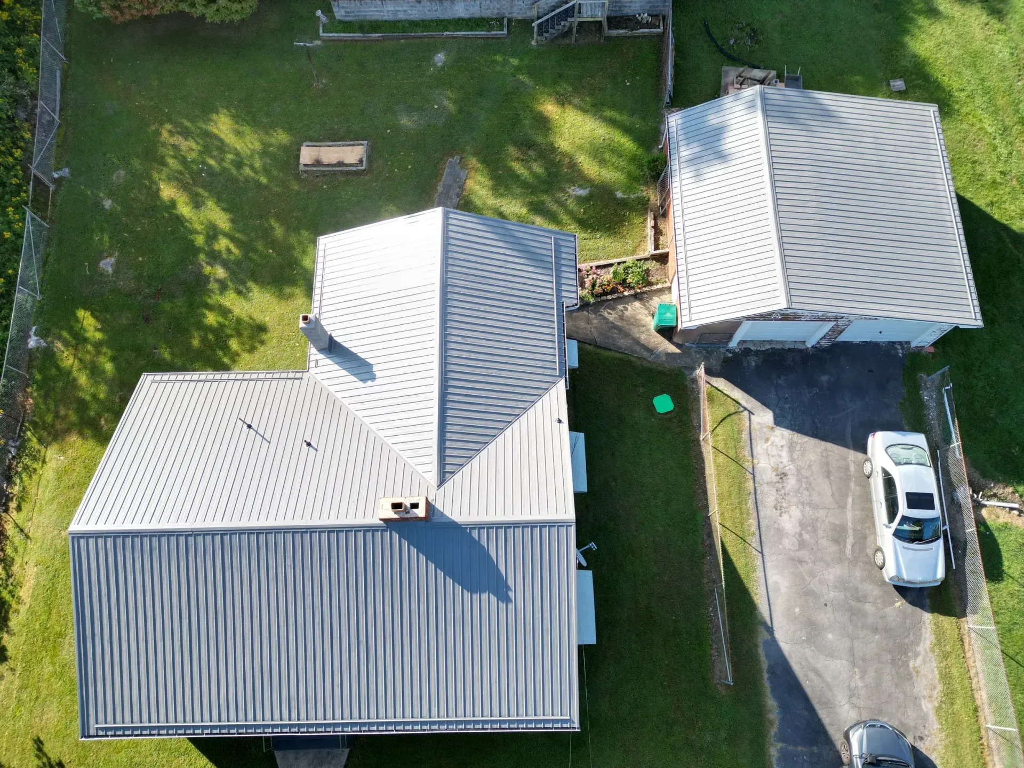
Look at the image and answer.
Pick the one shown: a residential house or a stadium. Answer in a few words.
residential house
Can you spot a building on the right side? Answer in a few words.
Yes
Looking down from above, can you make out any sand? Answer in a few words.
No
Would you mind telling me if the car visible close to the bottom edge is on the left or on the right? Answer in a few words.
right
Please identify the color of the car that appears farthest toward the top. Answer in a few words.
white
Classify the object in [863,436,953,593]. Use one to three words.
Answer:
car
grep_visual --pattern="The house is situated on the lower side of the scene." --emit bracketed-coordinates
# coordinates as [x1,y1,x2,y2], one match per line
[64,204,596,760]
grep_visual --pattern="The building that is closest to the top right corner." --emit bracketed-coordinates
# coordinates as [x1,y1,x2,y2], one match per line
[663,83,985,344]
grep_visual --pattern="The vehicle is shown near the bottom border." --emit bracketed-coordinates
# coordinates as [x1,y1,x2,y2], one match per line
[839,712,923,768]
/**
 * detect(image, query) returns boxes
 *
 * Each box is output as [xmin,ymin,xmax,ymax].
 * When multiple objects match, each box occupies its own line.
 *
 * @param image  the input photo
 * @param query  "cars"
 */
[863,436,953,593]
[839,712,923,768]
